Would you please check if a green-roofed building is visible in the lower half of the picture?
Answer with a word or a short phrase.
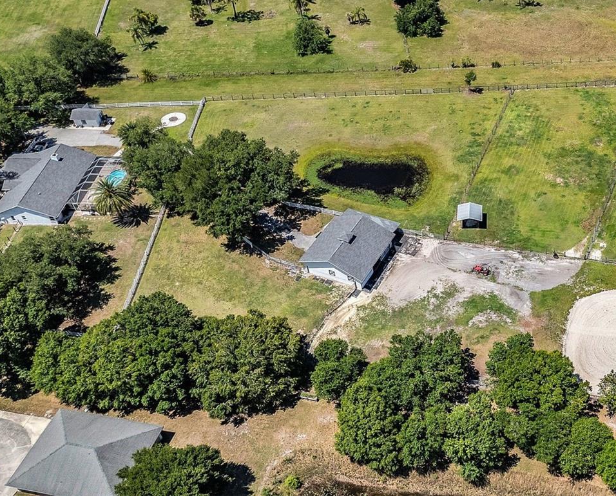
No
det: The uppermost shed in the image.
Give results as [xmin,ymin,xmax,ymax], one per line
[68,102,107,127]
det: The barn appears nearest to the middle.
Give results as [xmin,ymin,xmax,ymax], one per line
[299,208,405,290]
